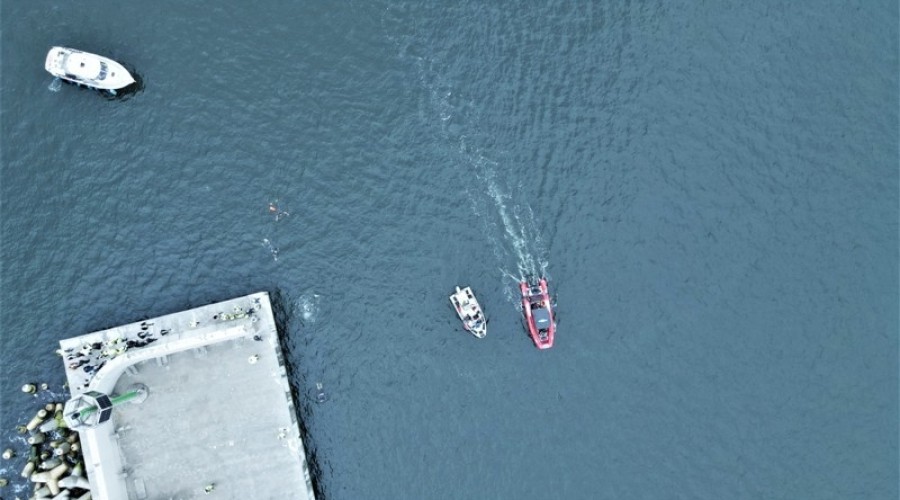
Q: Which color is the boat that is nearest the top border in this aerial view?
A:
white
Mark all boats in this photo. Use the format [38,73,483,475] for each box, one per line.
[520,277,554,349]
[450,286,486,339]
[45,47,134,94]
